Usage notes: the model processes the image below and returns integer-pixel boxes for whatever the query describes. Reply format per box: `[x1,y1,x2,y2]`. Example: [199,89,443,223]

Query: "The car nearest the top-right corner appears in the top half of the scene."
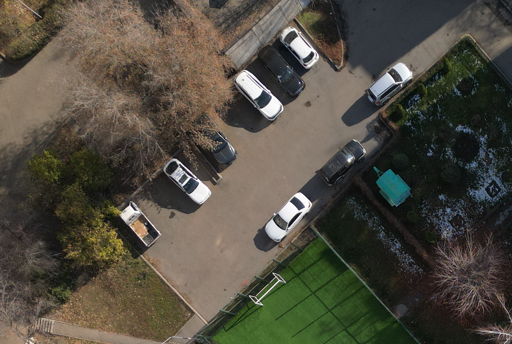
[364,59,415,109]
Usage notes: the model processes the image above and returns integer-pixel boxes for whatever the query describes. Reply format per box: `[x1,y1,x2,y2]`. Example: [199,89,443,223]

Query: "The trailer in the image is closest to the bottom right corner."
[376,168,411,207]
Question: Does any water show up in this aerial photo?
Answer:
No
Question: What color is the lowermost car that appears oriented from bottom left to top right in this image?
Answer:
white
